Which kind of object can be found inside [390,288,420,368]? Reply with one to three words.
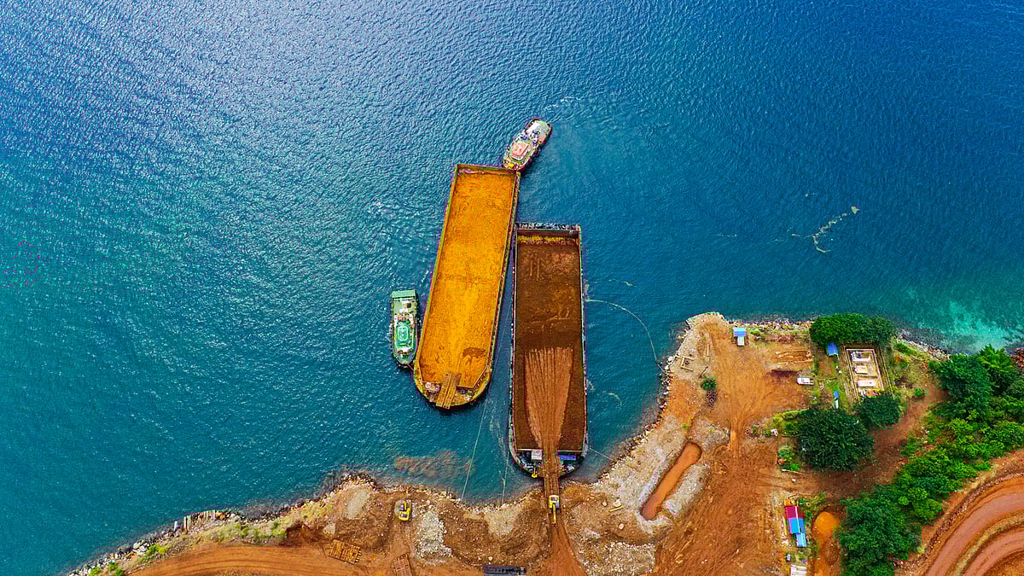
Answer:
boat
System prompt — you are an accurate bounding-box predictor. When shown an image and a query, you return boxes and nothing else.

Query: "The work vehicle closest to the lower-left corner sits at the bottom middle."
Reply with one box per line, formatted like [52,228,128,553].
[397,495,410,522]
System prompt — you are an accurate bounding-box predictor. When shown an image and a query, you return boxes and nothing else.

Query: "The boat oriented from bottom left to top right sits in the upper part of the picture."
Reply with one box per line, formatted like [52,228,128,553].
[503,114,553,170]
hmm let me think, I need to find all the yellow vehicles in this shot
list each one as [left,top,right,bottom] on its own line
[548,492,559,528]
[397,495,410,522]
